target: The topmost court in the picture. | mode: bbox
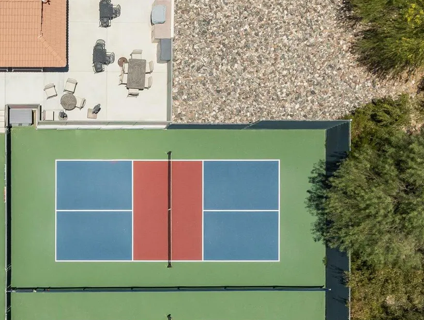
[9,127,325,290]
